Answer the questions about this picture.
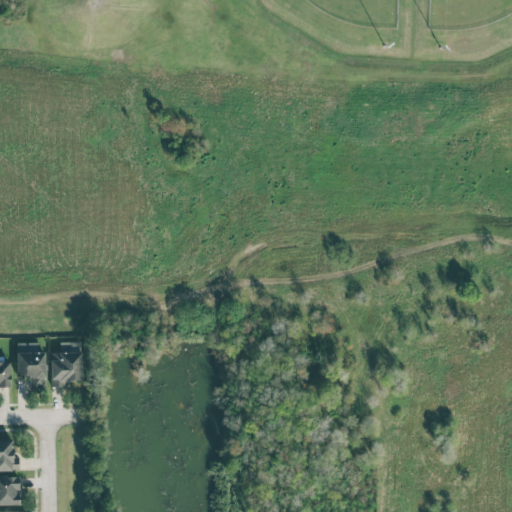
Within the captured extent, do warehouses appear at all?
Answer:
No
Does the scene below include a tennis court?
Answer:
No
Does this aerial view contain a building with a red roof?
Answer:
No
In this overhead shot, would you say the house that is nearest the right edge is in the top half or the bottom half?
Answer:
bottom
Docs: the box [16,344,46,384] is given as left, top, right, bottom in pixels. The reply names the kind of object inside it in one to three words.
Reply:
house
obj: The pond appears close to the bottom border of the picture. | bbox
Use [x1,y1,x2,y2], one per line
[104,340,220,512]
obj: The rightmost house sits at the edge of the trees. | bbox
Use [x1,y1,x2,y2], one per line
[51,343,82,384]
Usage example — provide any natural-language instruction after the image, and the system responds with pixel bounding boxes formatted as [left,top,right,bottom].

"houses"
[0,442,18,472]
[16,344,46,384]
[51,343,82,384]
[0,476,21,507]
[0,362,11,388]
